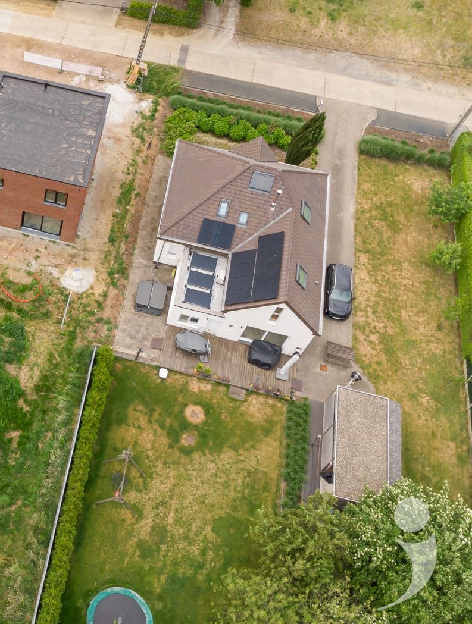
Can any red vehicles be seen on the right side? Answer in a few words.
No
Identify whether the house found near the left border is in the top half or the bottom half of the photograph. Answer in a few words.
top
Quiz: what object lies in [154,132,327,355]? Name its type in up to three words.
house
